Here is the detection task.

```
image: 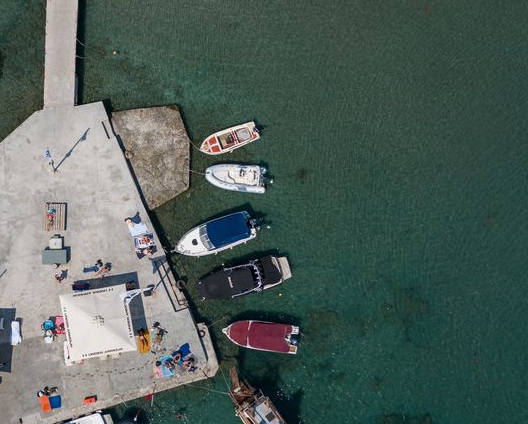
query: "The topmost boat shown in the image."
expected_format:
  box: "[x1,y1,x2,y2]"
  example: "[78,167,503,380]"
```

[200,122,264,154]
